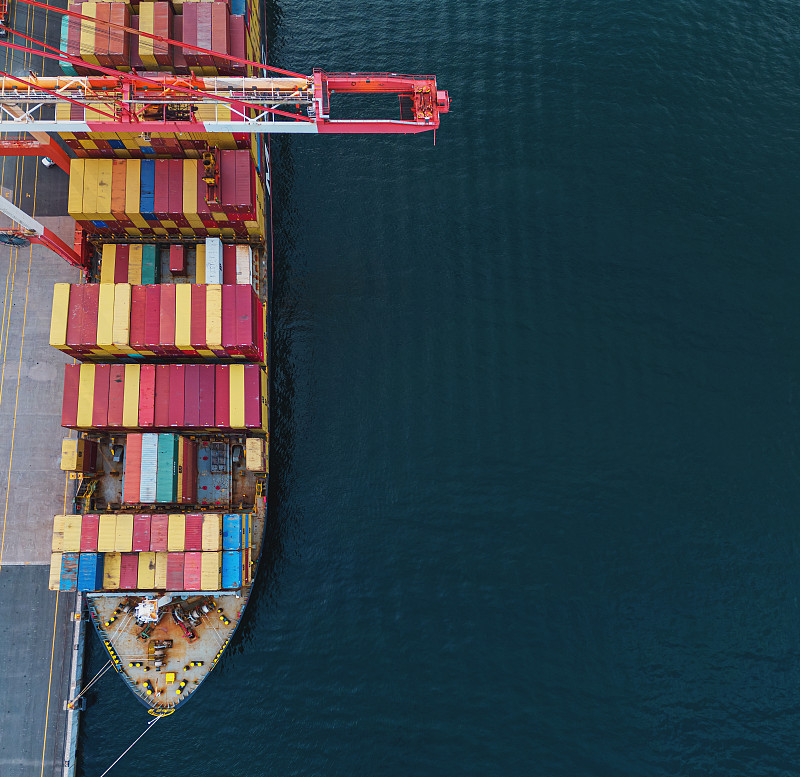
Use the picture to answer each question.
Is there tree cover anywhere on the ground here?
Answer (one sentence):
No, the scene doesn't show any tree cover.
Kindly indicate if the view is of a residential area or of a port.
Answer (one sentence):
The area seen from above is a port.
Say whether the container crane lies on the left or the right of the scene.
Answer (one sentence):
The container crane sits on the left side.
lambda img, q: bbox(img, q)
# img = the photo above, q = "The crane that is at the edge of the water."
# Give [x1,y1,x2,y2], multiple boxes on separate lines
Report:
[0,0,455,282]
